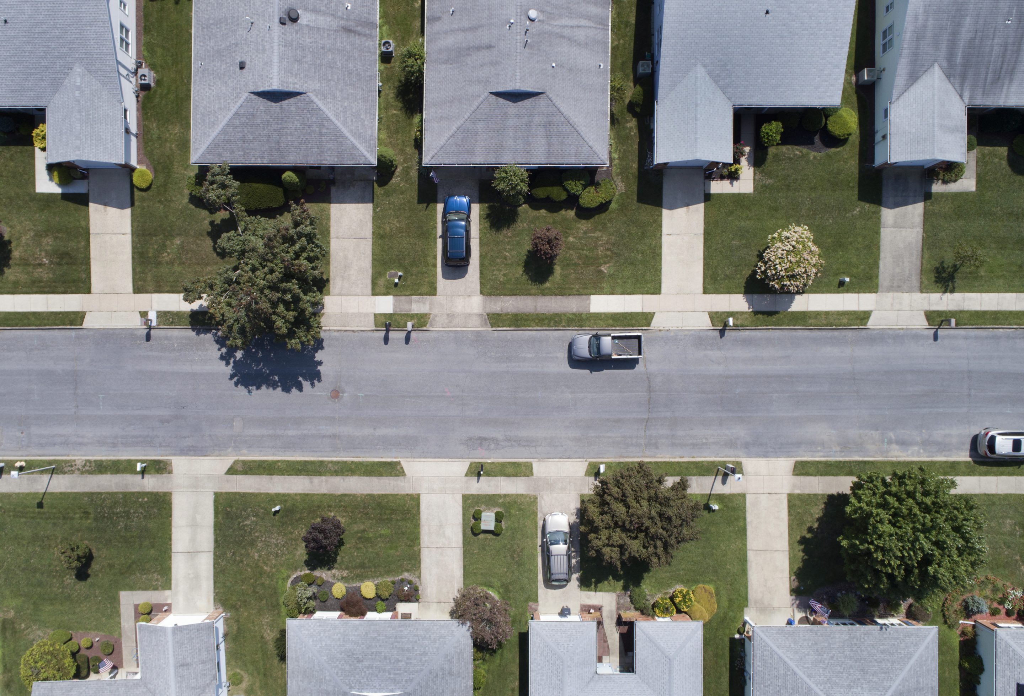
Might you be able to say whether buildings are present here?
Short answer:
Yes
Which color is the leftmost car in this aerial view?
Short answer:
blue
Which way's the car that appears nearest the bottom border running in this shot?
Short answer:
up and down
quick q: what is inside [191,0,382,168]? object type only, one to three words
house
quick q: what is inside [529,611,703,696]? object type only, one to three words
house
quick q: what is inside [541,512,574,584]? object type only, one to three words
car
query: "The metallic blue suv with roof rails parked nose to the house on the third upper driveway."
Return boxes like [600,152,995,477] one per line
[440,197,474,267]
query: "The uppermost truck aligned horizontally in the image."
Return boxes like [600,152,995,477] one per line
[568,329,644,364]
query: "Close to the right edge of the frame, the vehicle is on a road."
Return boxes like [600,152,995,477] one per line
[975,429,1024,459]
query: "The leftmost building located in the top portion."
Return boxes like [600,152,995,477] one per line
[0,0,144,178]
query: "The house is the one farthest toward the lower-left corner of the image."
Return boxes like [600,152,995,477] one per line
[34,610,232,696]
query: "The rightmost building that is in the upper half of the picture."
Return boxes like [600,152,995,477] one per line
[873,0,1024,170]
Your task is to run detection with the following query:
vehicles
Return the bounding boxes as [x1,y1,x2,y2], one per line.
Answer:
[975,429,1024,459]
[541,512,574,584]
[440,197,474,267]
[568,329,644,364]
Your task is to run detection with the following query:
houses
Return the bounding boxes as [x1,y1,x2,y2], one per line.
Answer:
[0,0,144,178]
[873,0,1024,170]
[34,610,232,696]
[286,612,474,696]
[529,611,703,696]
[646,0,855,179]
[191,0,382,168]
[730,615,938,696]
[966,620,1024,696]
[423,0,609,169]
